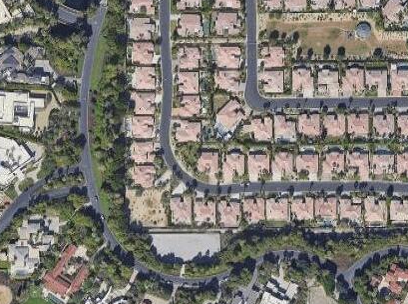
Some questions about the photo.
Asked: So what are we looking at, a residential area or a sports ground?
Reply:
residential area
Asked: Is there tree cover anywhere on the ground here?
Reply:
Yes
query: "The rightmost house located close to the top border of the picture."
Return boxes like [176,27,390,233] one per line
[383,0,408,22]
